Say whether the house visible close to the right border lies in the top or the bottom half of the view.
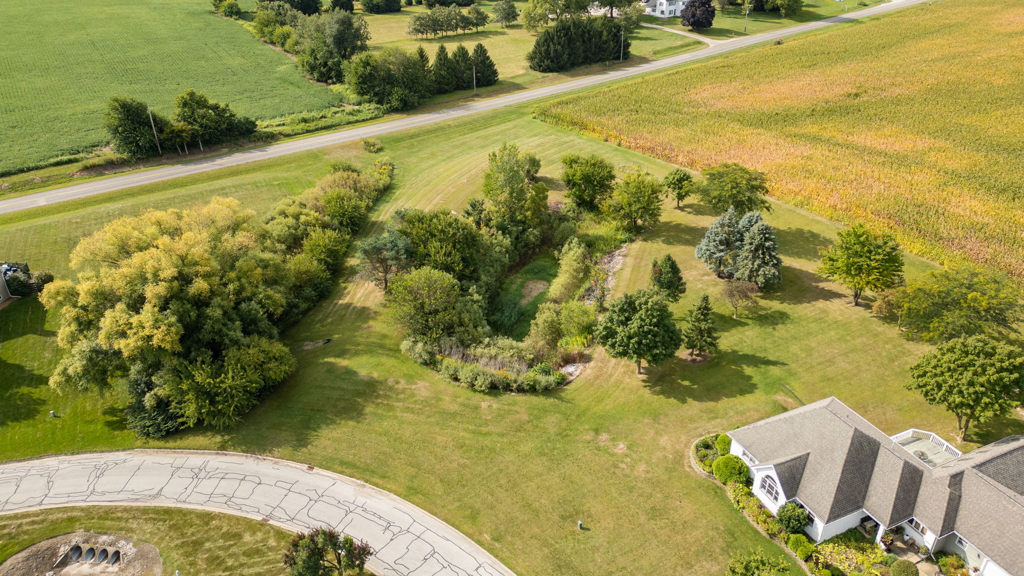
bottom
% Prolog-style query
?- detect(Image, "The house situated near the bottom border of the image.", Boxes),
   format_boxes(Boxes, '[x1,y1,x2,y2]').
[726,393,1024,576]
